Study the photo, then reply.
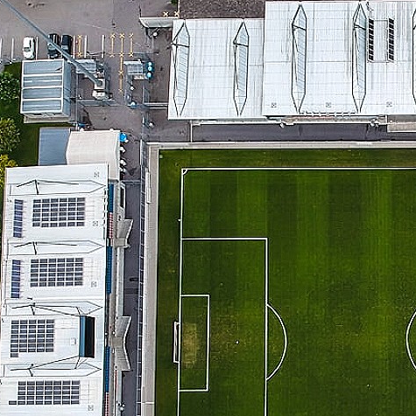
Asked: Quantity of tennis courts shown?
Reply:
0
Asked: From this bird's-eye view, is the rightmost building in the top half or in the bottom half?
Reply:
top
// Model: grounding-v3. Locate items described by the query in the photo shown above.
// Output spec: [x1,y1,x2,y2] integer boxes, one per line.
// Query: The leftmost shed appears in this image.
[19,58,74,125]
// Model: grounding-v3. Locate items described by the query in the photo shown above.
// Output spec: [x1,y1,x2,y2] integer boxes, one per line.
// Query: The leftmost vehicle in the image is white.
[23,36,37,57]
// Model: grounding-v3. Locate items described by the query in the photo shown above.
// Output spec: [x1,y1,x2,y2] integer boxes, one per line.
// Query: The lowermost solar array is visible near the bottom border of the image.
[8,380,78,404]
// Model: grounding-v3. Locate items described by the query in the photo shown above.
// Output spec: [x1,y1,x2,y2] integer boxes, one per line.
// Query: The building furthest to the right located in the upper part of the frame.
[123,59,149,80]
